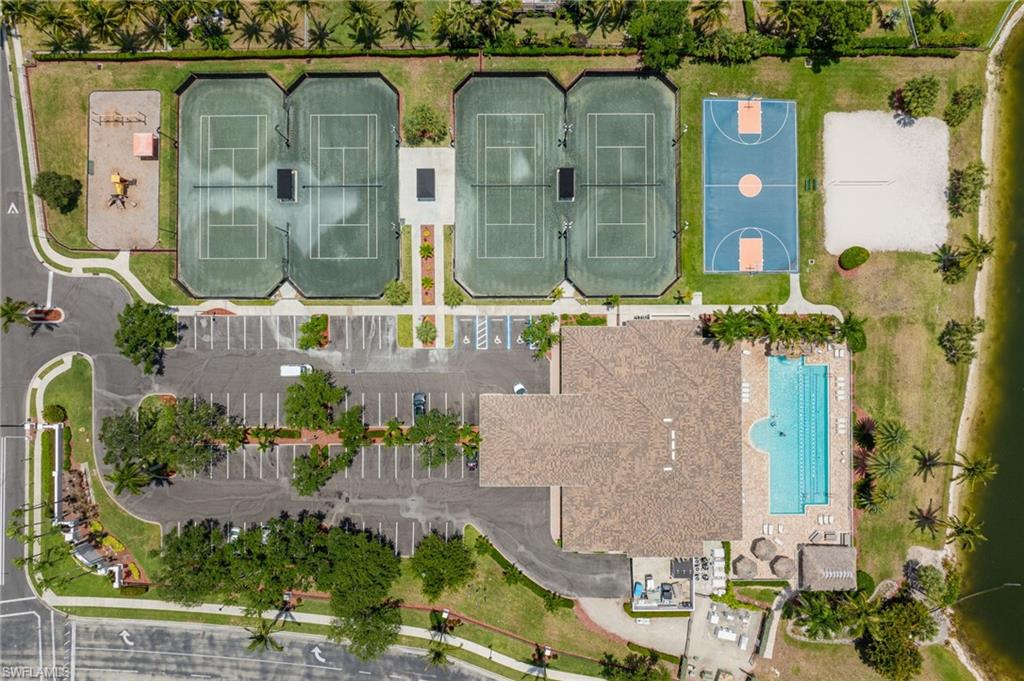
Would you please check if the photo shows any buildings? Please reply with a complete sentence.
Yes, you can see a building in this photo.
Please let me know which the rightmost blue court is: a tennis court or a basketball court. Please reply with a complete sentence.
I'd say the rightmost blue court is a basketball court.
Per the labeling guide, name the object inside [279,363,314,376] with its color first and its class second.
white vehicle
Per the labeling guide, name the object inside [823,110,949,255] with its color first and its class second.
white sports court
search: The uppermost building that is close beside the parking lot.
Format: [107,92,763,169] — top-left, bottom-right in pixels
[479,320,742,559]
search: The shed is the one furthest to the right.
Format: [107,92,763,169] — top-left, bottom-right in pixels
[795,542,858,591]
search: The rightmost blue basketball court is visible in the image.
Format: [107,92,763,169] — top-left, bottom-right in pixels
[704,99,799,273]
